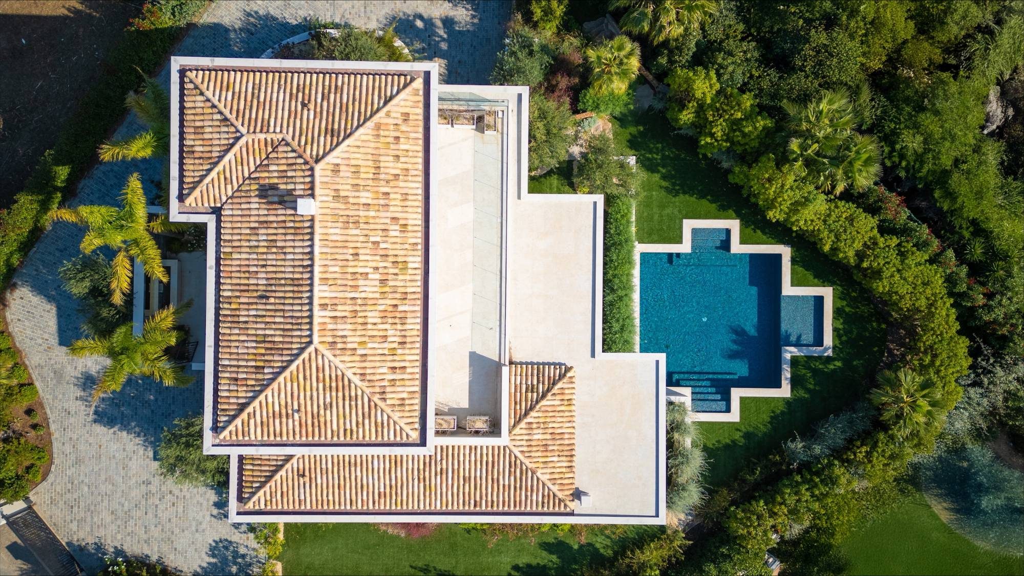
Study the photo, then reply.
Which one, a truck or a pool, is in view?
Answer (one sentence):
It is a pool that can be seen here.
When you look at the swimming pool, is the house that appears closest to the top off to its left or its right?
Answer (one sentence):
Looking at the photo, the house that appears closest to the top lies to the left of the swimming pool.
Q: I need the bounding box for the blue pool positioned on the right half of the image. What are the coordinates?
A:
[635,219,832,422]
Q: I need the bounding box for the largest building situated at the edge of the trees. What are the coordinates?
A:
[170,57,666,525]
